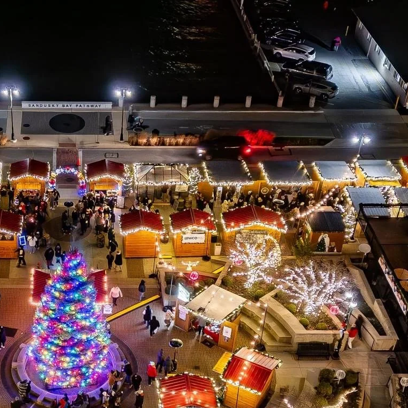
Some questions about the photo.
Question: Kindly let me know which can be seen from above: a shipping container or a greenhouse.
greenhouse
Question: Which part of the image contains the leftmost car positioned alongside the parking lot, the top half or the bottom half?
top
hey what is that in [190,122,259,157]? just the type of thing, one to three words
car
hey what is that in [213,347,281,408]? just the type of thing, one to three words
shed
